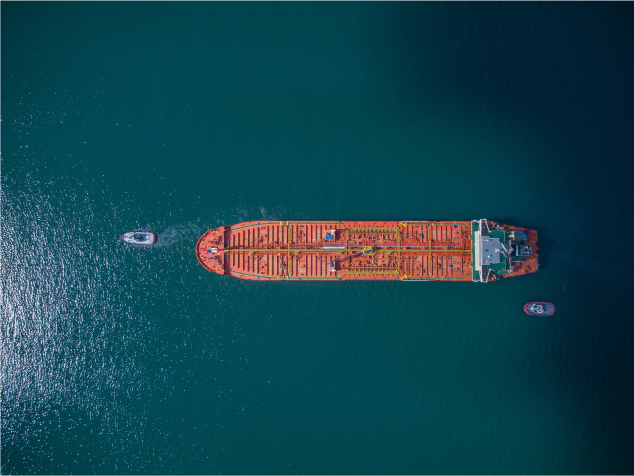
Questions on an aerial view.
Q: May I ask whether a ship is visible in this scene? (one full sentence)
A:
Yes, the image includes a ship.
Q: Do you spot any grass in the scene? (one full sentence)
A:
No, no grass is visible.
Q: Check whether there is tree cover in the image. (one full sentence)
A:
No, there's no tree cover in this view.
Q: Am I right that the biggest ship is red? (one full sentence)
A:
Yes, the biggest ship appears red.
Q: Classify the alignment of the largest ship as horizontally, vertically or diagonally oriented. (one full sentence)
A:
What the image shows is the largest ship lying horizontally.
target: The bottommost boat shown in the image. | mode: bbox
[524,301,557,316]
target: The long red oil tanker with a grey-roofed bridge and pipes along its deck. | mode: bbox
[196,219,540,282]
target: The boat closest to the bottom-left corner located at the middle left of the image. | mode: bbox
[119,231,156,246]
